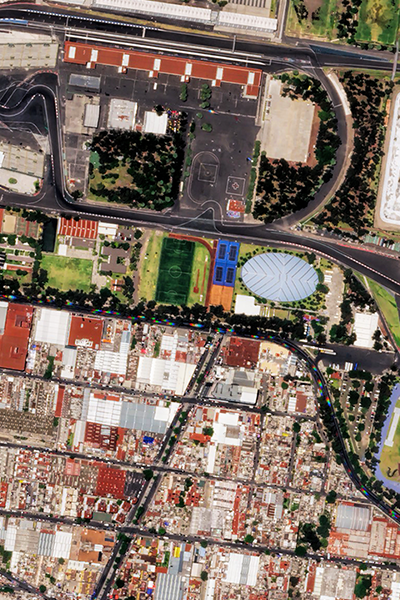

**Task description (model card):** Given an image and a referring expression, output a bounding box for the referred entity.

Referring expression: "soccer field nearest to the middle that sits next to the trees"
[155,236,195,305]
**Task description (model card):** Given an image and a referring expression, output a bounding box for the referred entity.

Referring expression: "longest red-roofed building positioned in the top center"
[62,39,261,83]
